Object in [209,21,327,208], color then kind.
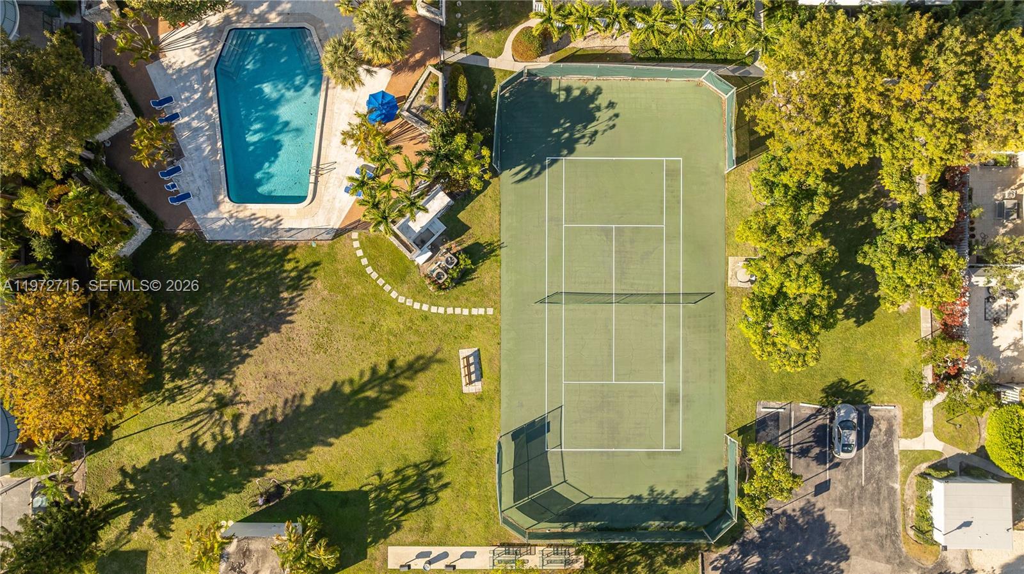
blue swimming pool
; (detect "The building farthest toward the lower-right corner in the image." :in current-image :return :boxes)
[930,477,1015,551]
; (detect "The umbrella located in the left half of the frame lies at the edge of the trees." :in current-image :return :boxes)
[367,92,399,122]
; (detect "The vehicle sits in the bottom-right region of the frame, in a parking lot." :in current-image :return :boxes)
[831,404,860,461]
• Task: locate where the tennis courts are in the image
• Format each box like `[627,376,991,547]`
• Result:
[500,78,726,530]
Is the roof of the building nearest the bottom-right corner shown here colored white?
Yes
